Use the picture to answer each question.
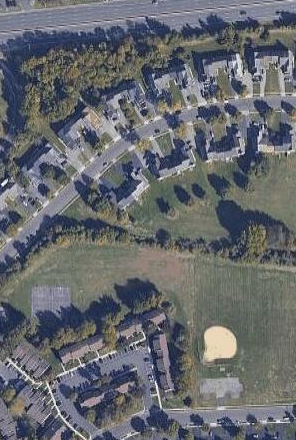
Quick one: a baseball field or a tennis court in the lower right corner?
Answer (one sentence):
The feature located in the lower right corner is a baseball field.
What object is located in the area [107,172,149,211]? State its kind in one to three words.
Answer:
house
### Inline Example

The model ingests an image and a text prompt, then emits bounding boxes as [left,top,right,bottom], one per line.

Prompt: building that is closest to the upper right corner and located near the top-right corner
[251,54,289,76]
